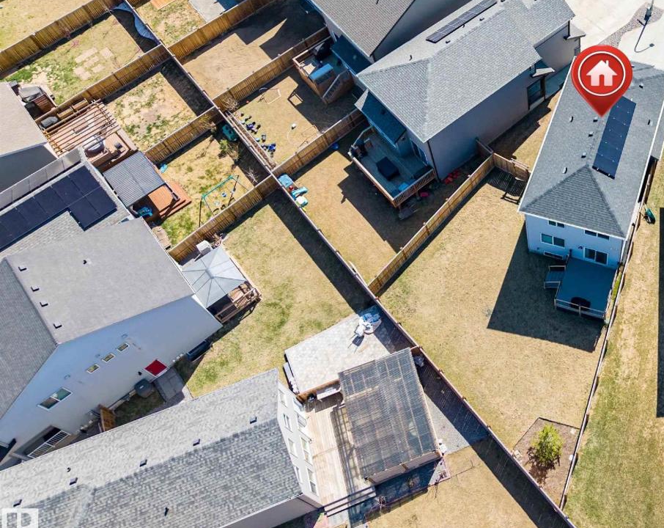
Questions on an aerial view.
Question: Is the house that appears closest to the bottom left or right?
left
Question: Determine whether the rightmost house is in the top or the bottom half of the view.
top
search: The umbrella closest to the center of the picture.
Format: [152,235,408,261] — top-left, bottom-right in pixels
[350,309,381,336]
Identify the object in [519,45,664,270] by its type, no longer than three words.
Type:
house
